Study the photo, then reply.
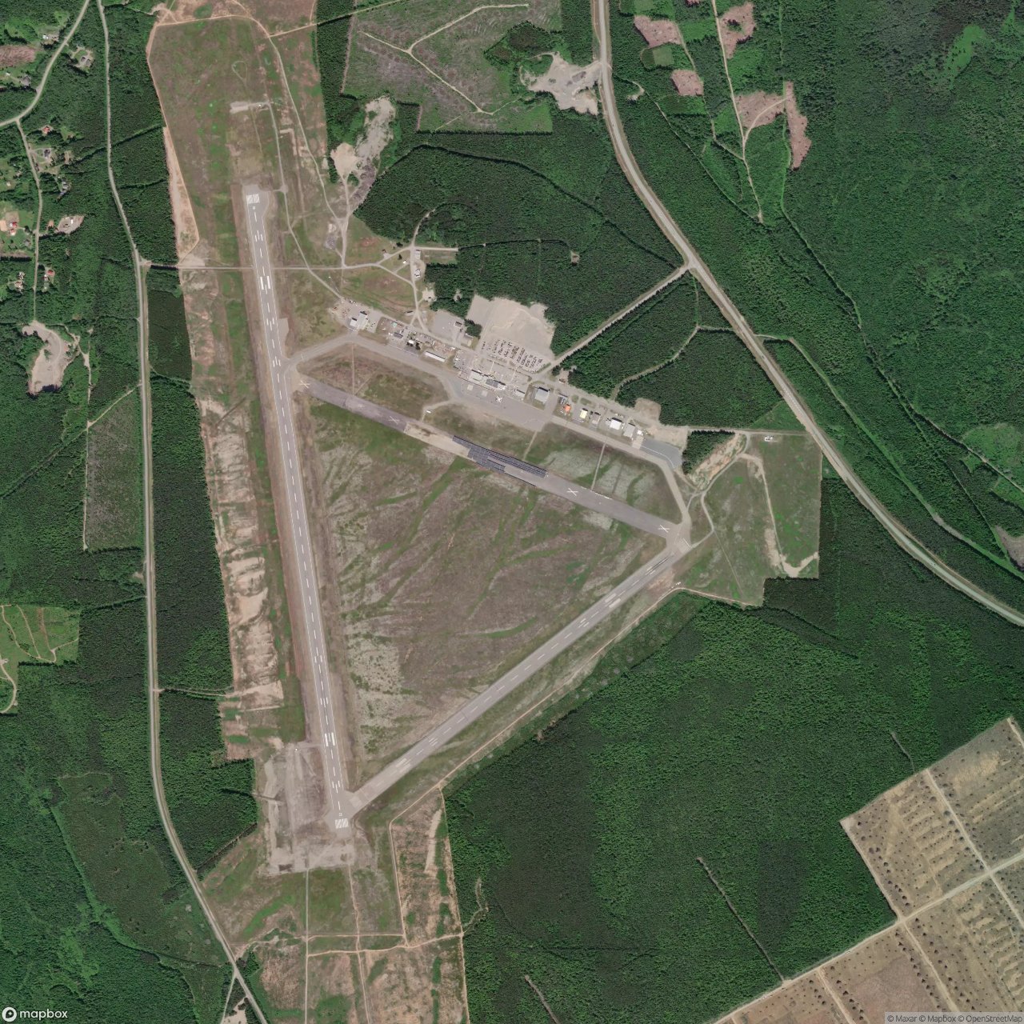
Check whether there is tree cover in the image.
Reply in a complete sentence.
Yes, tree cover can be seen from above here.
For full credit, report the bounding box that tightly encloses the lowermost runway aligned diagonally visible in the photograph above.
[352,538,690,810]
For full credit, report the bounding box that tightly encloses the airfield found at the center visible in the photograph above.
[243,185,693,838]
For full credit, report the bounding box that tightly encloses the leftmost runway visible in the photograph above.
[243,185,358,838]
